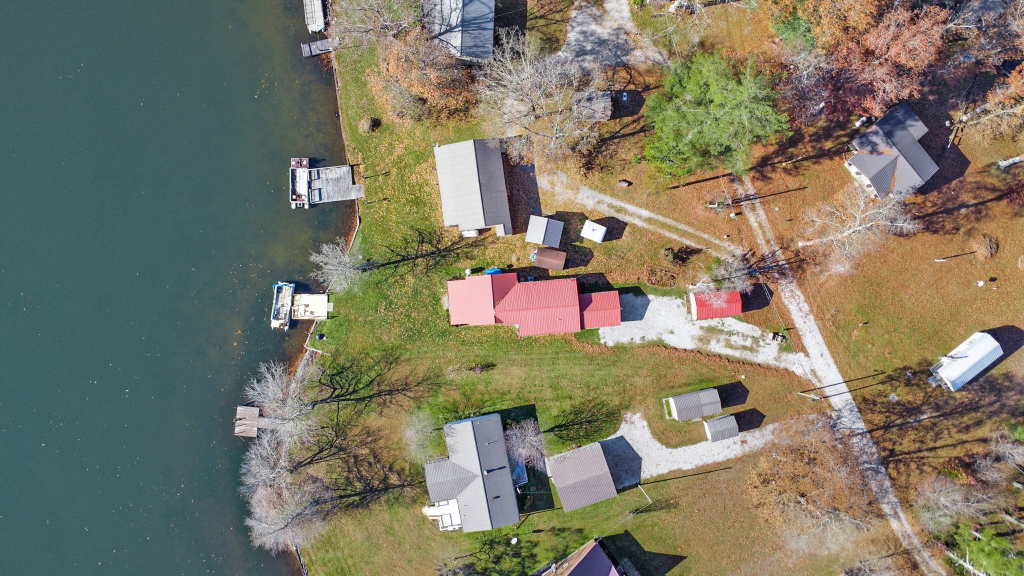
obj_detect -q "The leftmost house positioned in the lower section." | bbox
[425,413,520,532]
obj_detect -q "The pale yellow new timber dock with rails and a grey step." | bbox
[290,293,334,320]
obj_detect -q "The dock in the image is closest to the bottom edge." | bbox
[231,405,286,438]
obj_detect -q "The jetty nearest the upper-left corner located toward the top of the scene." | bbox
[300,38,337,59]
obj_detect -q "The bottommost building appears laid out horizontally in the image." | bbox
[542,540,621,576]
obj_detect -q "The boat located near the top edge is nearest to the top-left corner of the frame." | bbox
[303,0,327,38]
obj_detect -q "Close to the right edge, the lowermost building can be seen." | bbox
[929,333,1004,394]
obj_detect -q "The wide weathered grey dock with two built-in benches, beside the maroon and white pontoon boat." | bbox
[306,164,364,205]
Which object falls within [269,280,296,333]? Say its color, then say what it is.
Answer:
white boat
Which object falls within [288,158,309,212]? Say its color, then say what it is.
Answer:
white boat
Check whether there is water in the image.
Yes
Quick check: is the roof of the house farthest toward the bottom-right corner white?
Yes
